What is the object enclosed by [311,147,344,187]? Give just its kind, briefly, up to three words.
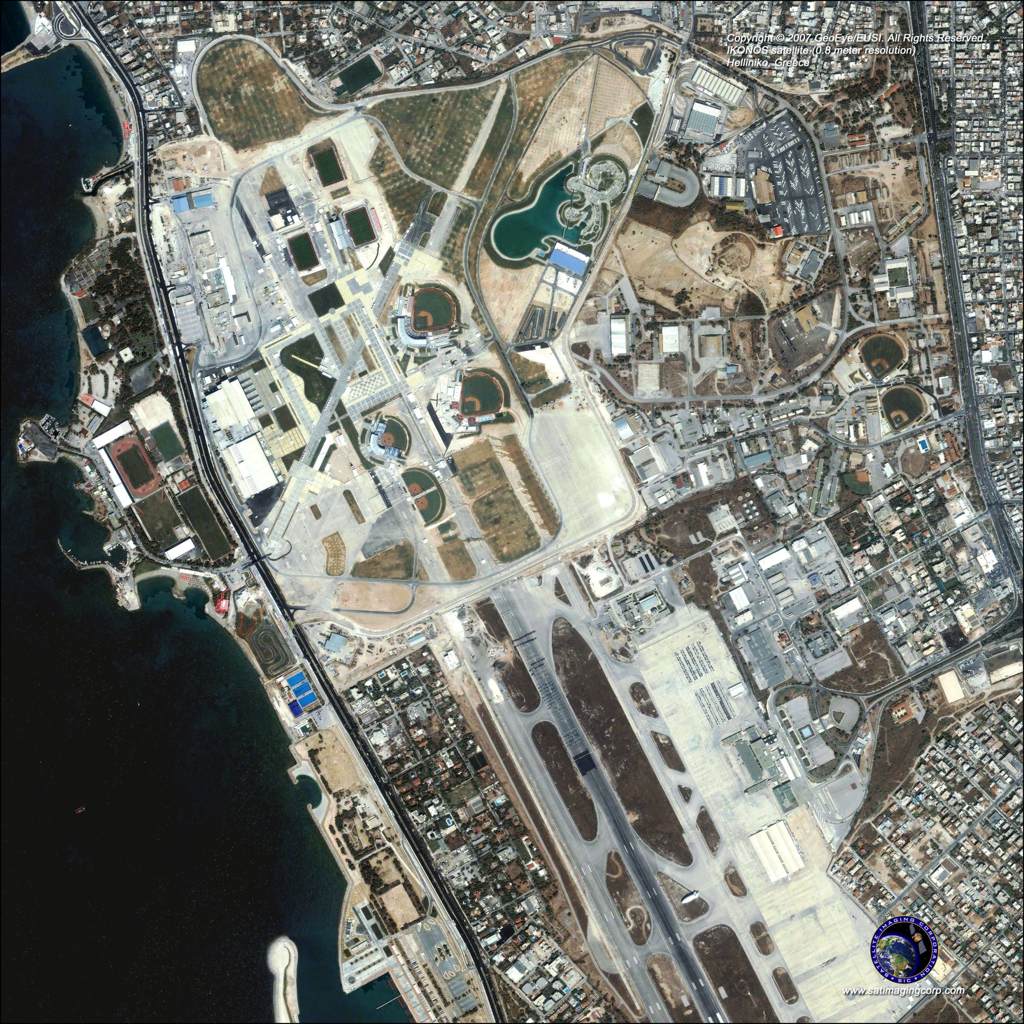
sports field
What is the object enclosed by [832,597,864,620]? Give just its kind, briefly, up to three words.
building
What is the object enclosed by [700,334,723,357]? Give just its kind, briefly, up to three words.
hangar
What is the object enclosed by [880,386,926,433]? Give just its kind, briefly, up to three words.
baseball field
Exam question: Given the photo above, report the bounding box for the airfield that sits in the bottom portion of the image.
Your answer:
[493,588,727,1024]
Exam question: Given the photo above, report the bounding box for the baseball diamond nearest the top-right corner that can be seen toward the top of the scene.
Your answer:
[859,333,907,381]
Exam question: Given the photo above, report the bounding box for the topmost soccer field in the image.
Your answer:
[329,53,384,99]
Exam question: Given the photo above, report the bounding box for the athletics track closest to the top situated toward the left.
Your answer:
[109,437,160,496]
